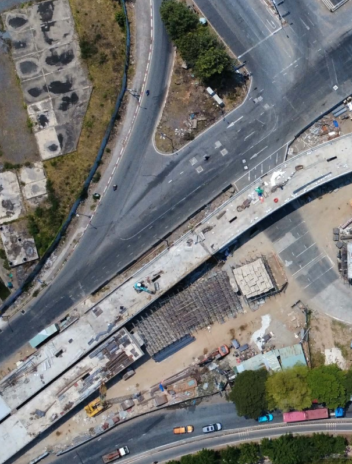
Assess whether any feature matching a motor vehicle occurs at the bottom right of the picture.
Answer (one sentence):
Yes, the scene does show a motor vehicle at the bottom right of the picture.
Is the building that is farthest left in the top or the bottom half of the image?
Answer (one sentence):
You can find the building that is farthest left in the bottom half.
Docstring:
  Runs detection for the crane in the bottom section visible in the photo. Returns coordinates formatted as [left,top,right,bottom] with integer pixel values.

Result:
[79,395,142,416]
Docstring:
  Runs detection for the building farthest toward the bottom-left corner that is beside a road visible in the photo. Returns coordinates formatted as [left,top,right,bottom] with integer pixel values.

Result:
[30,324,64,348]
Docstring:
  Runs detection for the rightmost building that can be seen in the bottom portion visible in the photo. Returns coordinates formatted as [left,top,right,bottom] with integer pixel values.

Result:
[277,345,308,367]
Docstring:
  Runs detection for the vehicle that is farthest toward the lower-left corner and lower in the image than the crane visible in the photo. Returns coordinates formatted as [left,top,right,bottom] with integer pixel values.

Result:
[100,445,132,463]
